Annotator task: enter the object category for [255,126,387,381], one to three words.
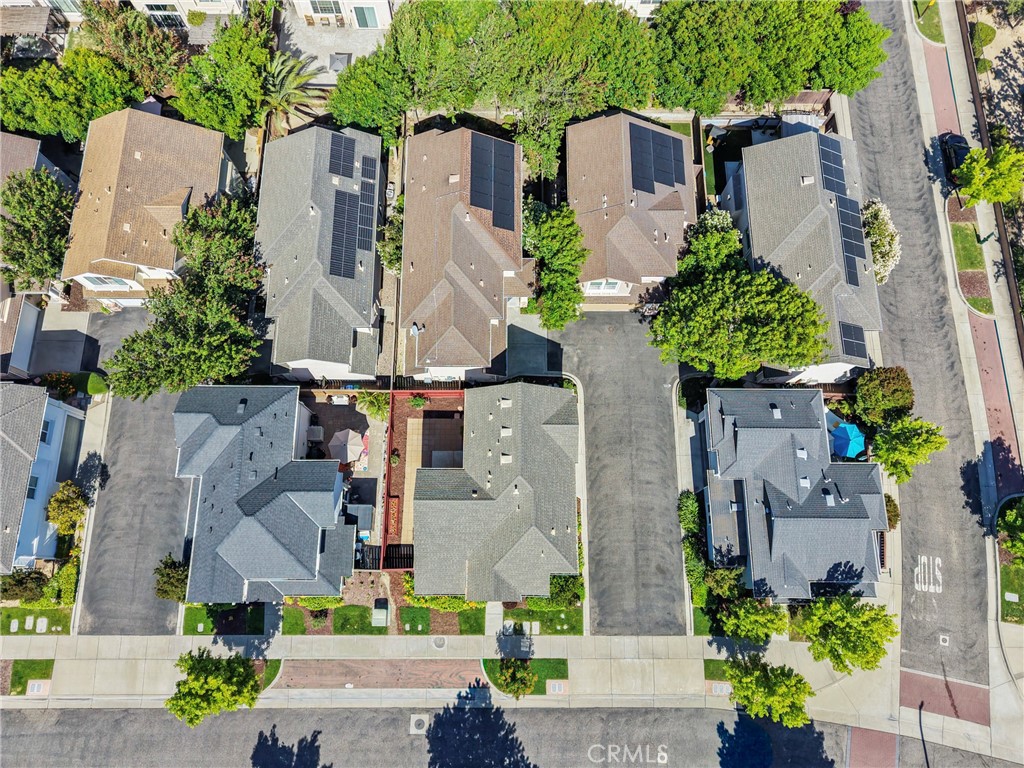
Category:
house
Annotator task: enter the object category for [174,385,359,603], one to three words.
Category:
house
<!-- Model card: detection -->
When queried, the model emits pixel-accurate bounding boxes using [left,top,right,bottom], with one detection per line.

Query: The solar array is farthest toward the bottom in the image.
[841,322,868,358]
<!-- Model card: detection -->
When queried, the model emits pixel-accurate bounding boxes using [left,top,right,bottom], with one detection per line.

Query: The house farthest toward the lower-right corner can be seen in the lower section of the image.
[697,388,888,605]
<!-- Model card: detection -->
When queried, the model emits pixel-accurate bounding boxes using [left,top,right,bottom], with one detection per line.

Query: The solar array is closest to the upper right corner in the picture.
[820,133,867,286]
